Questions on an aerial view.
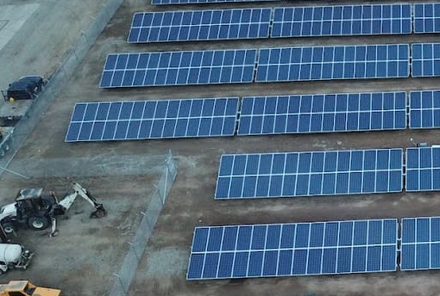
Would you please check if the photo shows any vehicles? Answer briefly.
Yes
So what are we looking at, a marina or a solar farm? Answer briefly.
solar farm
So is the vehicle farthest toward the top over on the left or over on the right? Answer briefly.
left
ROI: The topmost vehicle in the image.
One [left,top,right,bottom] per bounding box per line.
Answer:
[4,69,47,99]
